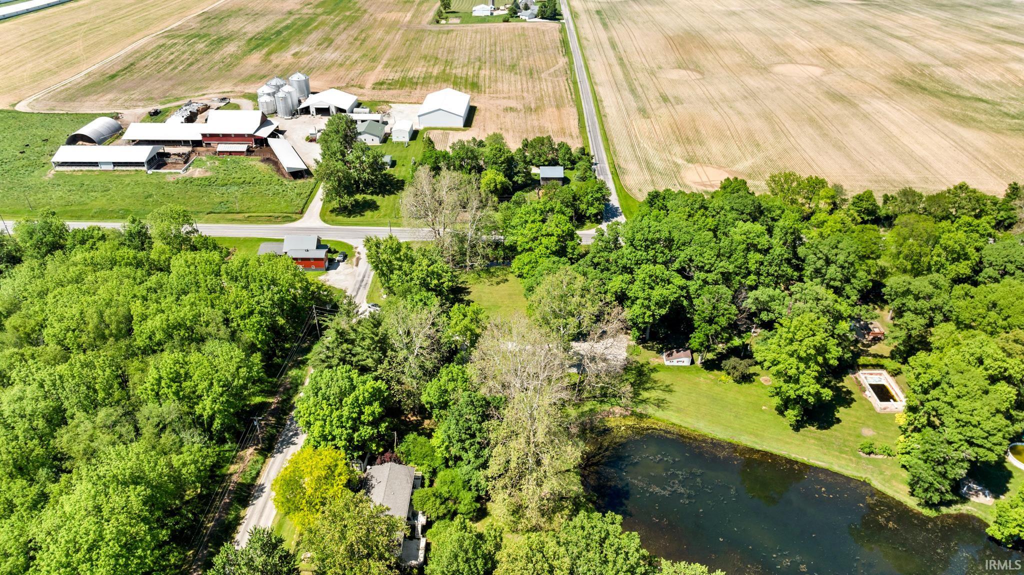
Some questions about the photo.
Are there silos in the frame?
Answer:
Yes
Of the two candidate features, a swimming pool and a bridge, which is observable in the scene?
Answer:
swimming pool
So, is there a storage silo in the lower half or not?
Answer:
No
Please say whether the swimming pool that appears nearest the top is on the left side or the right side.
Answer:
right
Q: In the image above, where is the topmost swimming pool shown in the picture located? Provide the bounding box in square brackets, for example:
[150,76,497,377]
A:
[855,369,909,412]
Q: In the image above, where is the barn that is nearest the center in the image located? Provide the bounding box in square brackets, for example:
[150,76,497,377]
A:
[540,166,564,185]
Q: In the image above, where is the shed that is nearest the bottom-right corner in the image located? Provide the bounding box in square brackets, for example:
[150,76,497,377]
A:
[663,347,693,365]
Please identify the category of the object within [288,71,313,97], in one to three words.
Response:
silo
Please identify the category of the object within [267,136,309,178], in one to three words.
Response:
shed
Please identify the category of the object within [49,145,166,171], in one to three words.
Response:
shed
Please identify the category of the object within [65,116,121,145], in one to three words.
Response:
barn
